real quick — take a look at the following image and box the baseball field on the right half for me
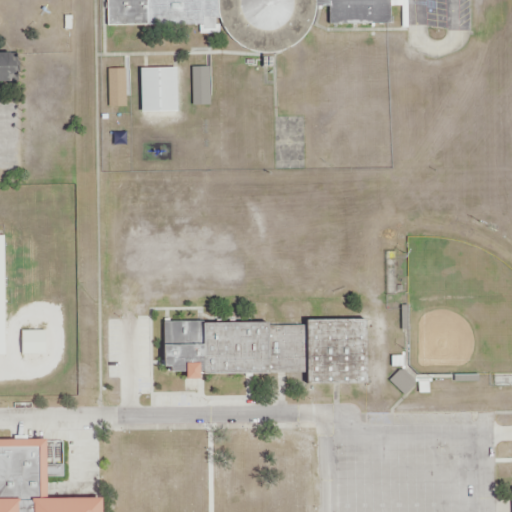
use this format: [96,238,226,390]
[408,236,512,373]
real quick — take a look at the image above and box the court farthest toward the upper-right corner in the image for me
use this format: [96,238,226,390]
[275,116,304,168]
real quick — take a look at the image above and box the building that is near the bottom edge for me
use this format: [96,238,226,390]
[0,440,104,512]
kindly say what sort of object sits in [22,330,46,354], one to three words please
shed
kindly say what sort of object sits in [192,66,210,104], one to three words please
building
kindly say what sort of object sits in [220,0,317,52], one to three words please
building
